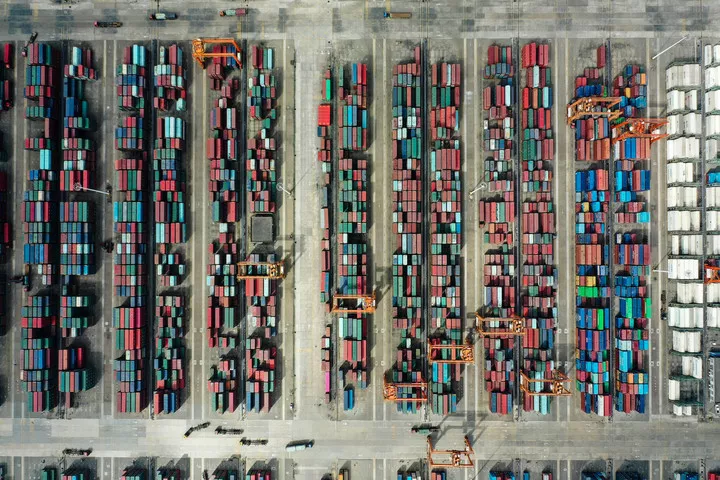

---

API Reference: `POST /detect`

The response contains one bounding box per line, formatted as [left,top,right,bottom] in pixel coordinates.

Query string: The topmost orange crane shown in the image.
[192,39,241,70]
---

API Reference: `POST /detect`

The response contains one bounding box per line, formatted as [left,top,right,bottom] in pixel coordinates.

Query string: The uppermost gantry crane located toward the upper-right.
[569,97,622,125]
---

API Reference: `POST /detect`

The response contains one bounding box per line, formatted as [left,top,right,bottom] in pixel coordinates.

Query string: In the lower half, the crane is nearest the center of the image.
[333,290,377,313]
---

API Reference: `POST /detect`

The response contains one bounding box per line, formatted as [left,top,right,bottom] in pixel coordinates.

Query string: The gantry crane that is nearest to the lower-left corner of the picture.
[238,260,288,279]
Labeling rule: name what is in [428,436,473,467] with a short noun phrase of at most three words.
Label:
container crane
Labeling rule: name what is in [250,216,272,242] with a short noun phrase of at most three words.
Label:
shed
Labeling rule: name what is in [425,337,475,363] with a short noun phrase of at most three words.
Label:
container crane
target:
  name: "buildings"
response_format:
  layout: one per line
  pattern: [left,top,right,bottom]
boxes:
[713,359,720,403]
[250,216,272,242]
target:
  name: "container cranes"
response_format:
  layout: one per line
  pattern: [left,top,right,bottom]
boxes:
[428,436,473,467]
[475,312,526,335]
[238,260,288,279]
[612,119,668,145]
[333,290,377,313]
[425,337,475,363]
[192,39,241,70]
[519,369,571,396]
[569,97,622,125]
[383,373,428,402]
